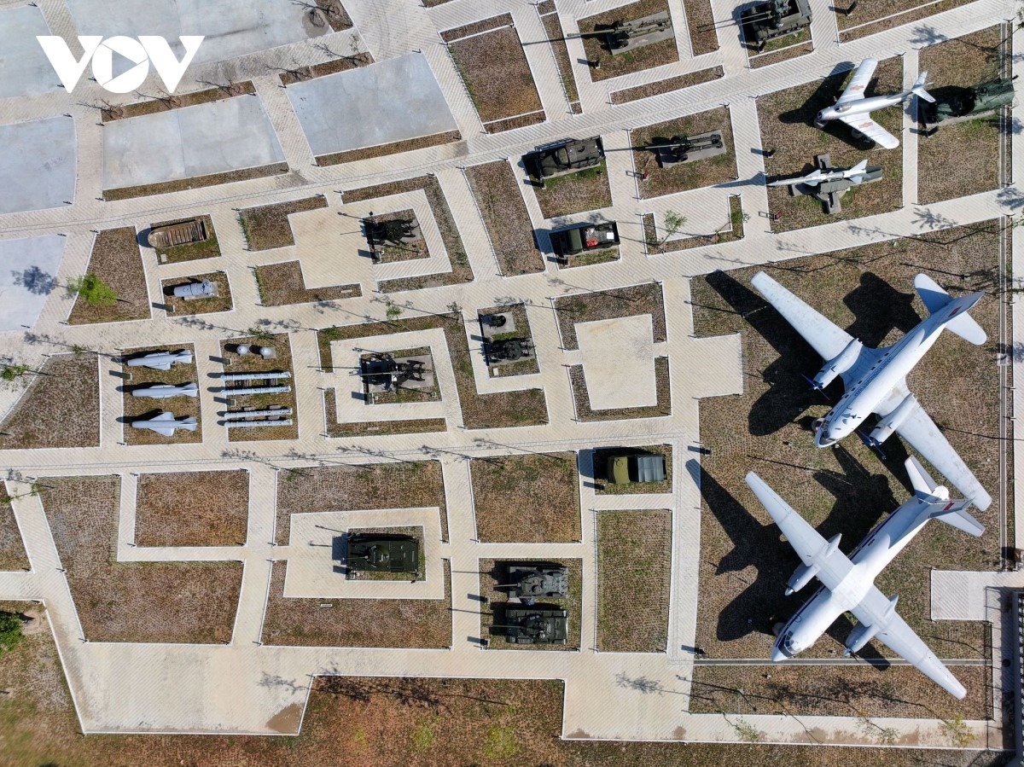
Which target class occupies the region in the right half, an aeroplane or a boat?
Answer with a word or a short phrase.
aeroplane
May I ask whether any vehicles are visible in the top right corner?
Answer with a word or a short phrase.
Yes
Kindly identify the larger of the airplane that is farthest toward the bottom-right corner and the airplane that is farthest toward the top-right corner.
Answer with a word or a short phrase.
the airplane that is farthest toward the bottom-right corner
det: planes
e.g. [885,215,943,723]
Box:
[755,271,993,507]
[745,457,987,695]
[817,55,938,152]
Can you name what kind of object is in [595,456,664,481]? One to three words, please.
truck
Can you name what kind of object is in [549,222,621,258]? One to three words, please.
truck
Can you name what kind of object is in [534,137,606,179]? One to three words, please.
vehicle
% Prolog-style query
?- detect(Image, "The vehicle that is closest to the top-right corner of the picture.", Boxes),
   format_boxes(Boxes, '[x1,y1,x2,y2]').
[918,70,1023,124]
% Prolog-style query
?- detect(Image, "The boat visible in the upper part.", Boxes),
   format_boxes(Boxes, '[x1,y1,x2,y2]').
[148,217,213,245]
